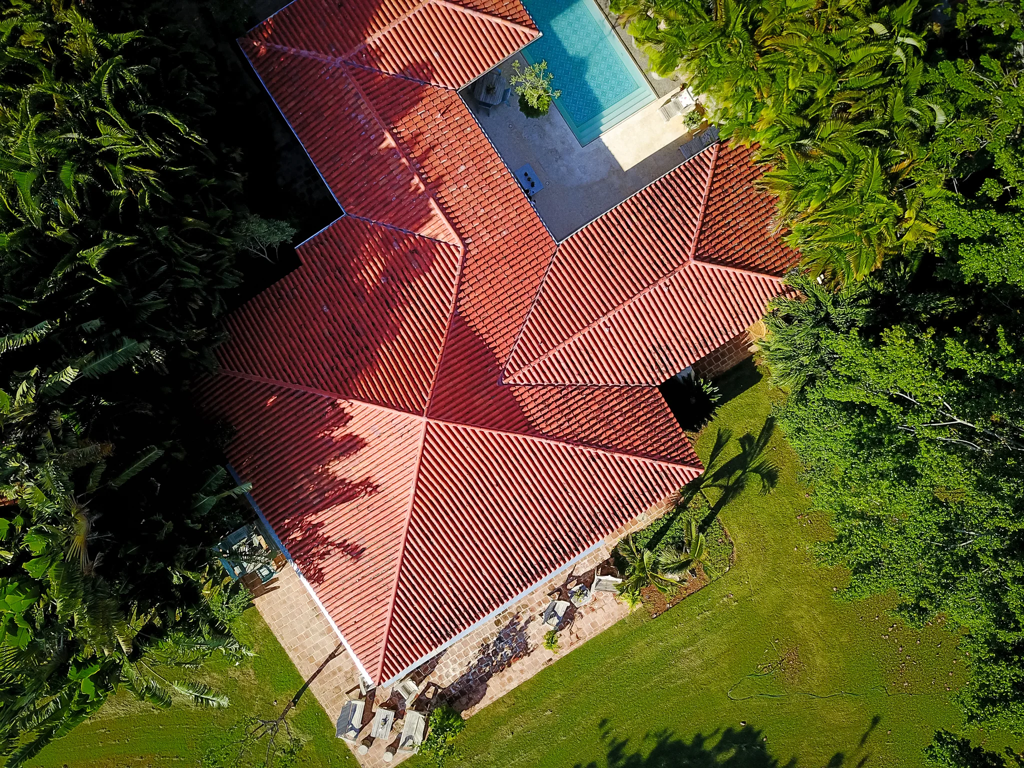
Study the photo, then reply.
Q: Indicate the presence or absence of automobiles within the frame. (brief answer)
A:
No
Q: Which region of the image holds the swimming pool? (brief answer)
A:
top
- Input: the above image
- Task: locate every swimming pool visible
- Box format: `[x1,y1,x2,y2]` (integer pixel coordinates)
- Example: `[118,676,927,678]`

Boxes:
[520,0,671,151]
